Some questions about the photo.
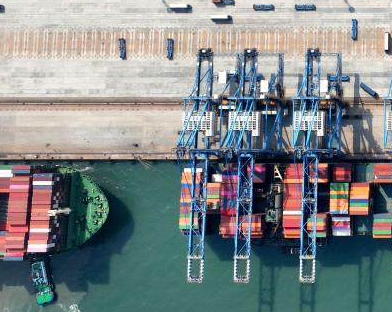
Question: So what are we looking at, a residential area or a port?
port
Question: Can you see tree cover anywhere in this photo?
No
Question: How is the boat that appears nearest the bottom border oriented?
vertically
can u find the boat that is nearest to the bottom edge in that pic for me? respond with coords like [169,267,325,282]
[34,257,59,307]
